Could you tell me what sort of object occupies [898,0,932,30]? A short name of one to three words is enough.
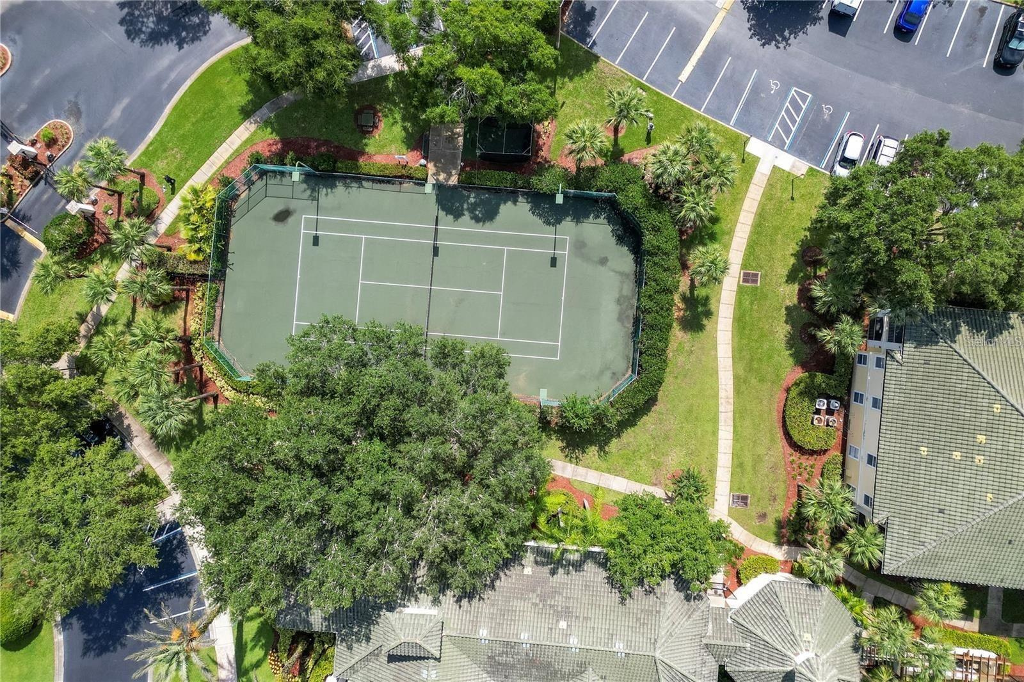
car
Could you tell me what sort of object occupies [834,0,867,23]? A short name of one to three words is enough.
car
